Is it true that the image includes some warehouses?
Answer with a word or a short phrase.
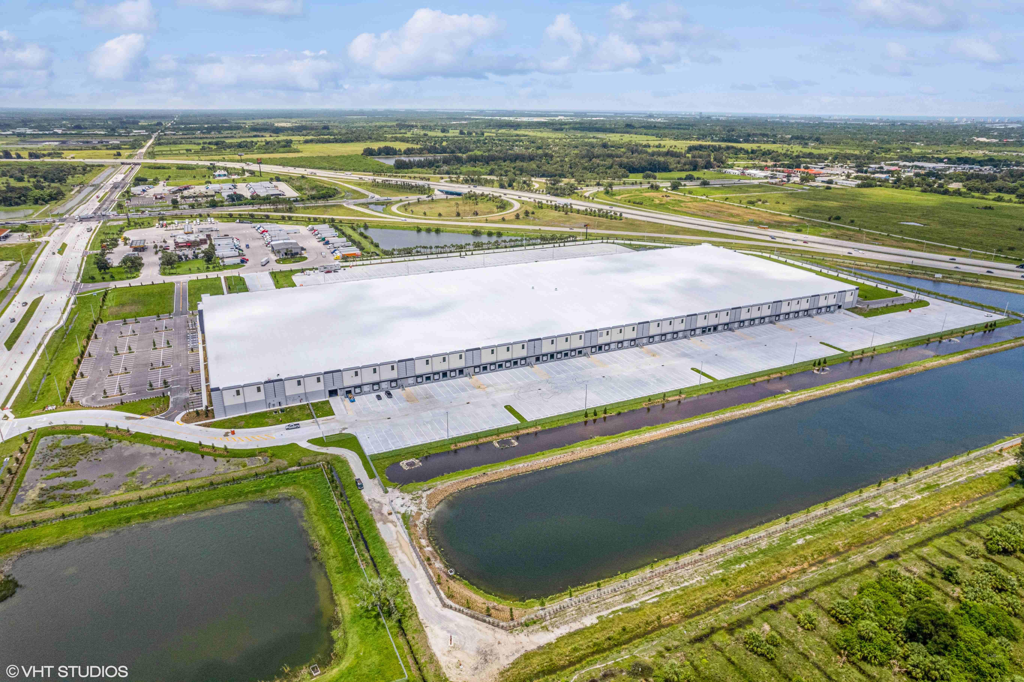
Yes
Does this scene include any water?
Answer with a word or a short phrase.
Yes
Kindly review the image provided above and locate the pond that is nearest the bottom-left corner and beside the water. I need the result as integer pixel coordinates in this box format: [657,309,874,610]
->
[0,496,337,682]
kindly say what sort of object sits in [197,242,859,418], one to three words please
warehouse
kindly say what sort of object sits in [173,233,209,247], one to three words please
building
